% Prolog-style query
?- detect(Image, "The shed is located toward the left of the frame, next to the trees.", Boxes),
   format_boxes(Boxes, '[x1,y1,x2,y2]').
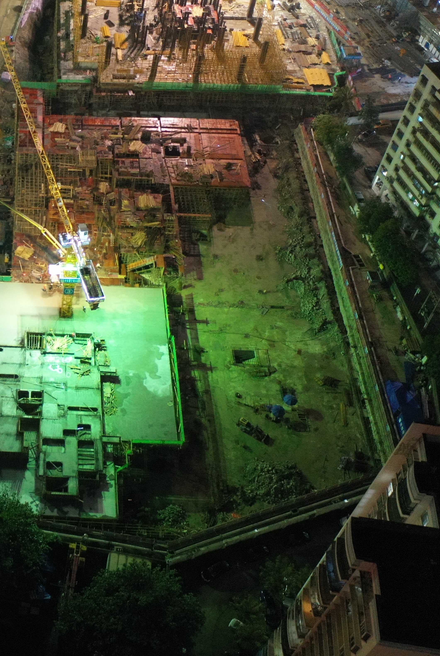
[106,552,151,582]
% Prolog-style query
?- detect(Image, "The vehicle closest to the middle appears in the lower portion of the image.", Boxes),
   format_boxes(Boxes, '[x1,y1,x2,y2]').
[239,412,282,453]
